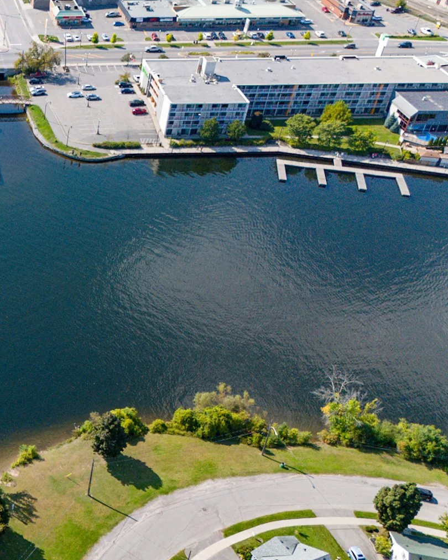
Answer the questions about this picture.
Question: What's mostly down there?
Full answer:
For the most part, this view shows water.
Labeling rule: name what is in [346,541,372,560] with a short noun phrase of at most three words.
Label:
car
